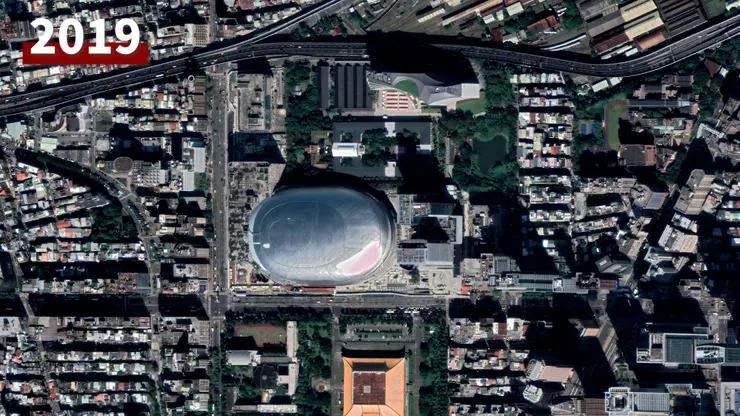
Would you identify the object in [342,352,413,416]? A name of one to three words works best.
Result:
building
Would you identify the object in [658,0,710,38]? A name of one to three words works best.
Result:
building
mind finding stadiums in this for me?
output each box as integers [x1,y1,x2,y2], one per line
[248,187,407,290]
